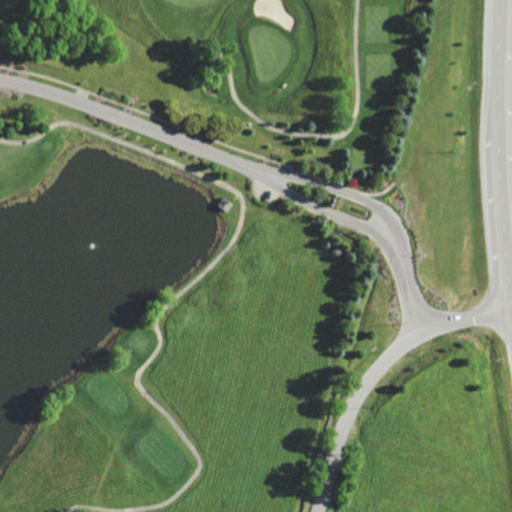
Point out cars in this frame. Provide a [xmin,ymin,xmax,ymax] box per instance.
[450,316,462,320]
[260,192,270,202]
